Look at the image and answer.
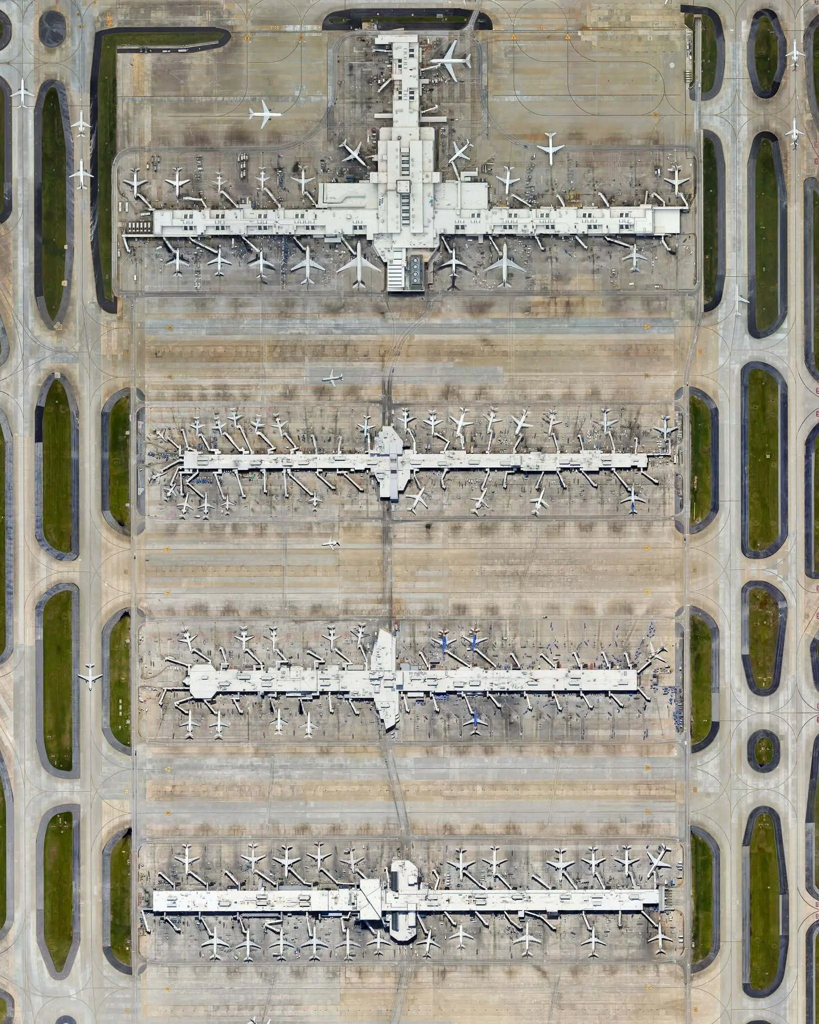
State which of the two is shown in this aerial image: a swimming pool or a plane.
plane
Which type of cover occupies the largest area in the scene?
paved ground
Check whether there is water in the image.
No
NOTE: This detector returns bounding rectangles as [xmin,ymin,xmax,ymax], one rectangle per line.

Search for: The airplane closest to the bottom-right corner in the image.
[648,924,674,955]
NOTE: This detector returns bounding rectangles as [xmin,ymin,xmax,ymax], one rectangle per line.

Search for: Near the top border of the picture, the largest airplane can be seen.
[429,39,471,82]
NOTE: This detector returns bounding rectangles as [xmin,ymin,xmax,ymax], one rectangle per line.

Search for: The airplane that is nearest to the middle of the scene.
[405,486,427,513]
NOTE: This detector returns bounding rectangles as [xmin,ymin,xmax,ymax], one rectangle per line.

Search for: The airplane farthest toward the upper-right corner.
[786,40,805,66]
